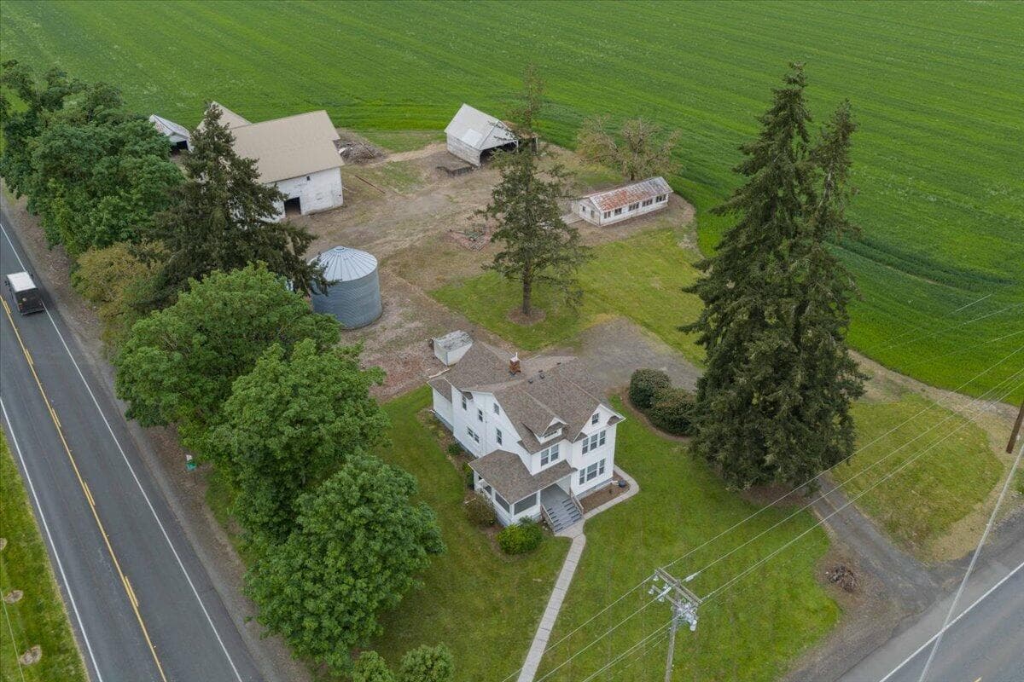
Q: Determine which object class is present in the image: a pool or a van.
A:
van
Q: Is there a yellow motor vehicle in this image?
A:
No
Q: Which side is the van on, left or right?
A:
left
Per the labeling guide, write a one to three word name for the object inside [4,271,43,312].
van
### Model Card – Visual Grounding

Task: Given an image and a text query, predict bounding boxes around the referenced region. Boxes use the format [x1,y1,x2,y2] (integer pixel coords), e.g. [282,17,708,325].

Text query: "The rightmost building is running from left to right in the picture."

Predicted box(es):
[568,177,675,225]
